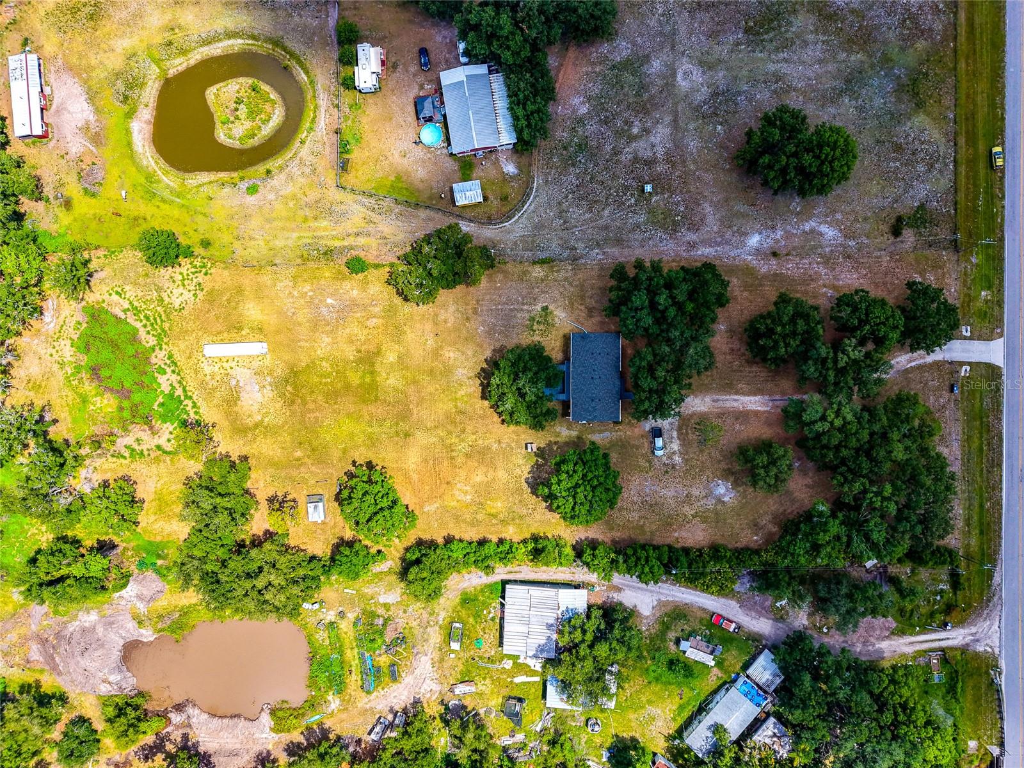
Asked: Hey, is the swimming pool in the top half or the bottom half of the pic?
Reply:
top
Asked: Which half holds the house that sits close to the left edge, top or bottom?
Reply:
top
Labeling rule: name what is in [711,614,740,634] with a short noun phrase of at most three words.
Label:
vehicle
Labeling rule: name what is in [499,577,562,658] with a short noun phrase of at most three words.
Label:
building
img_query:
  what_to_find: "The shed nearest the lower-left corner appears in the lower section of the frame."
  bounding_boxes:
[307,493,327,523]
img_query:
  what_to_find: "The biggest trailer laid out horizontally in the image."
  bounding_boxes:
[203,342,271,357]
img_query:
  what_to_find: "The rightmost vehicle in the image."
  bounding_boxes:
[990,147,1003,169]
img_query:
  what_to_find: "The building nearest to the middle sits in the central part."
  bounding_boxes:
[543,321,632,422]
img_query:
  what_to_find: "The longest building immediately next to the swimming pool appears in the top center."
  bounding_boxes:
[440,64,500,161]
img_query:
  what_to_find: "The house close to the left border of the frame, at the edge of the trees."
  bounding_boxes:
[9,52,66,143]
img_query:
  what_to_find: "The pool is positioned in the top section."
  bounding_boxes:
[420,124,442,147]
